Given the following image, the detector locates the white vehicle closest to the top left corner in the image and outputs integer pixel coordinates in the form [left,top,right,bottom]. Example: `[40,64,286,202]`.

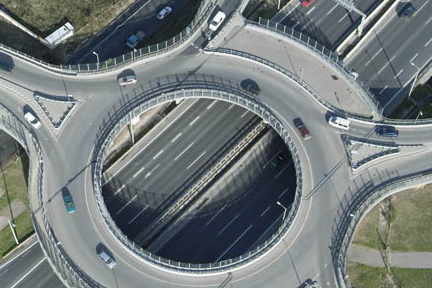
[23,109,43,130]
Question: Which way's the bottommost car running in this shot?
at an angle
